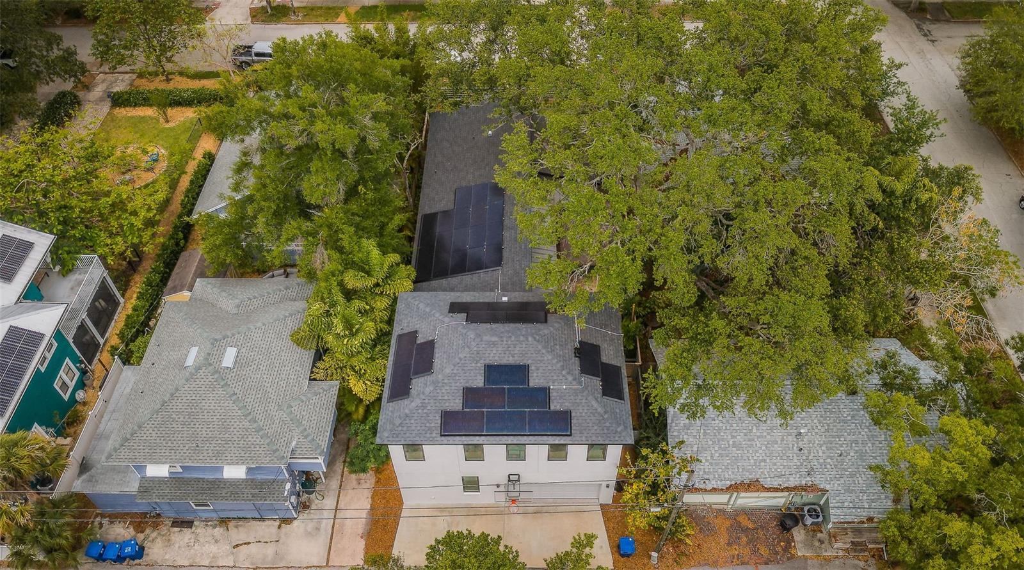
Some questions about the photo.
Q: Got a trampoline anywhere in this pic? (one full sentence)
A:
No, I can see no trampoline in this picture.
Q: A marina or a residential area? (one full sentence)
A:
This image shows a residential area.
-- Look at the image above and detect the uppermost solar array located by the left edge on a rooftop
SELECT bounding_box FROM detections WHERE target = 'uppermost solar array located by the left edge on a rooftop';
[0,234,31,281]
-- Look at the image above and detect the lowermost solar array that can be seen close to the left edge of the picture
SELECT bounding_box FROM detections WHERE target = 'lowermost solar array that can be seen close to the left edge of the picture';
[0,326,43,417]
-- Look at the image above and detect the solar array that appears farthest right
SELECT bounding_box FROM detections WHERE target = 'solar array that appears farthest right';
[579,341,623,401]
